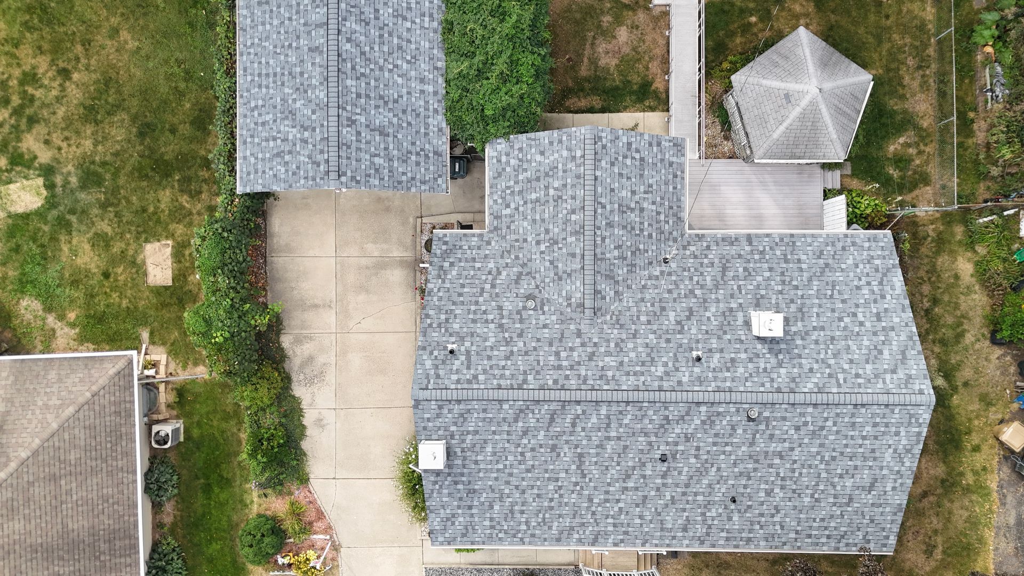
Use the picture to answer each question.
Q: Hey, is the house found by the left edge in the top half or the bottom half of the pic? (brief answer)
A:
bottom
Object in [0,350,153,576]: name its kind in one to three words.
house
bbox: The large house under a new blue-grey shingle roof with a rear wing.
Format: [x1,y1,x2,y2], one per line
[409,127,936,555]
